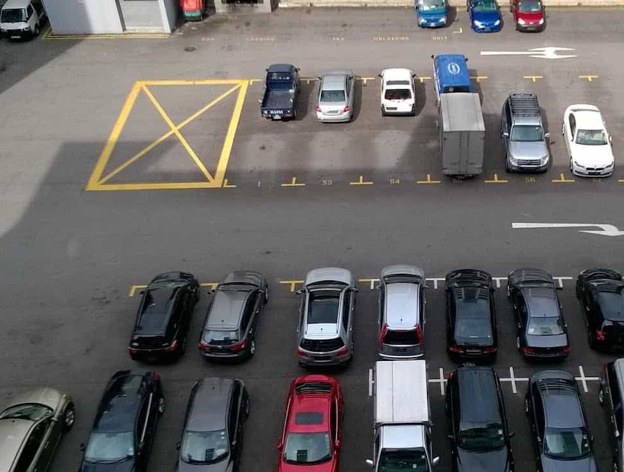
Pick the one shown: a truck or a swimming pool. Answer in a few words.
truck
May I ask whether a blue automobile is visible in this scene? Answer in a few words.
Yes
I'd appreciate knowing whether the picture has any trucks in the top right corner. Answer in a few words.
Yes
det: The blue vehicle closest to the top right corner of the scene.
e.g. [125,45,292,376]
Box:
[469,0,505,32]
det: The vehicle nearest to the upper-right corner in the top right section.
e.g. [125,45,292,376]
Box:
[510,0,548,32]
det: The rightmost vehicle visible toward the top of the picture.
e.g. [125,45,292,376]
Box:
[563,106,618,178]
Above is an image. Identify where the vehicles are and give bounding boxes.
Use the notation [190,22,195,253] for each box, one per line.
[366,363,441,472]
[599,362,624,472]
[314,67,357,122]
[508,267,573,360]
[123,270,201,363]
[525,370,606,472]
[257,63,302,119]
[0,0,50,39]
[445,368,519,472]
[439,268,500,362]
[469,0,505,32]
[165,376,249,472]
[578,267,624,354]
[378,70,417,116]
[271,375,346,472]
[415,0,450,27]
[510,0,548,32]
[71,371,166,472]
[296,267,357,365]
[501,88,551,170]
[373,268,433,363]
[194,270,269,364]
[0,390,78,472]
[563,106,618,178]
[430,56,487,176]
